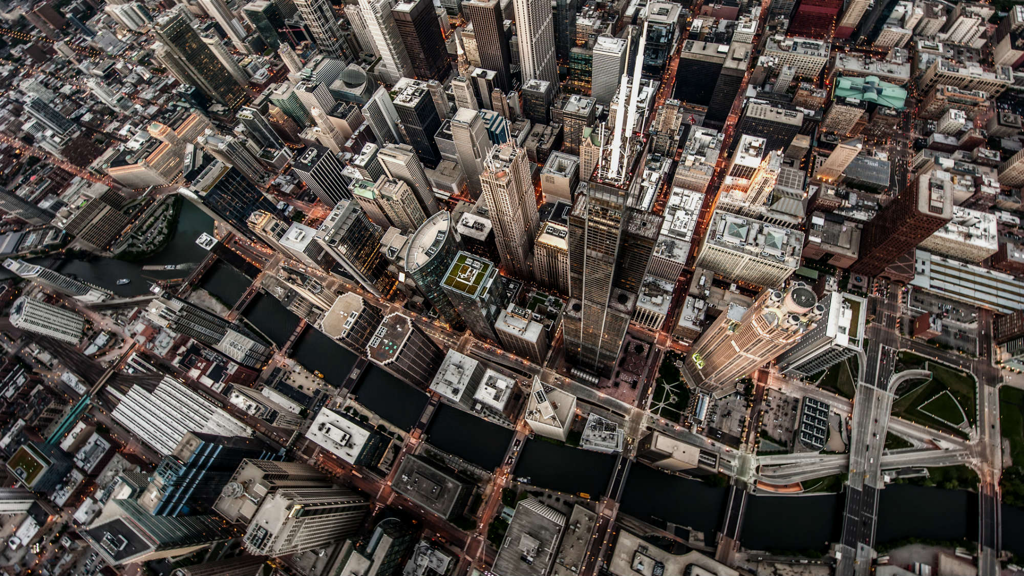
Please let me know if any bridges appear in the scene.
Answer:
Yes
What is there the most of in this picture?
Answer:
buildings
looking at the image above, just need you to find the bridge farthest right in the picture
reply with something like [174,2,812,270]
[965,489,1004,553]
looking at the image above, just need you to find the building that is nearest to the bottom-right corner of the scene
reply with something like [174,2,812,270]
[931,542,980,576]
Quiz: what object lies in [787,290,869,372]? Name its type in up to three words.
building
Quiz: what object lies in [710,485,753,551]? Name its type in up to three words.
bridge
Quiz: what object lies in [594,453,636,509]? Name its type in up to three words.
bridge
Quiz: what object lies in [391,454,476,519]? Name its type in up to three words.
building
